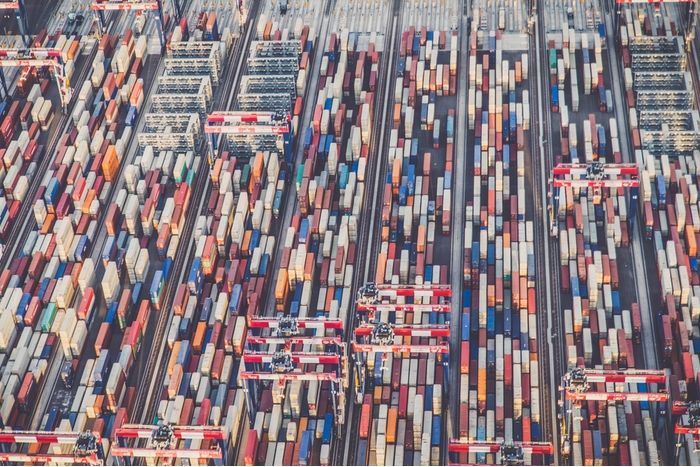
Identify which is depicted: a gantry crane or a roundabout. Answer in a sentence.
The image shows a gantry crane.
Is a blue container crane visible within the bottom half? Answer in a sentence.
No, no blue container crane is visible within the bottom half.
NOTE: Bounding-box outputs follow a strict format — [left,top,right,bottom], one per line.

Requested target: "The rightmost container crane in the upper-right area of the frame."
[616,0,697,49]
